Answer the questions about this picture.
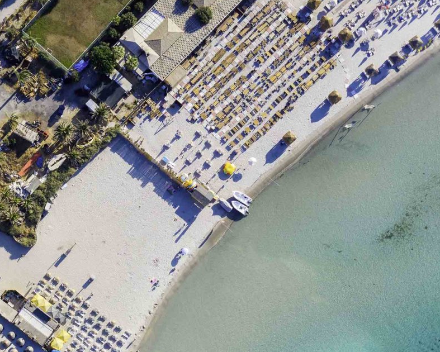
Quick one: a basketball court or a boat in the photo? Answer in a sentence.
Visible in the photo is a boat.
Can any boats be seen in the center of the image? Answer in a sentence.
Yes, a boat shows up in the center of the image.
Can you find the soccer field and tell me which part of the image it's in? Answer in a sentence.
The soccer field is in the top left part of the image.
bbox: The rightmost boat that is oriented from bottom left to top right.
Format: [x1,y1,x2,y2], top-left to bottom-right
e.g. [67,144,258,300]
[51,153,66,169]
